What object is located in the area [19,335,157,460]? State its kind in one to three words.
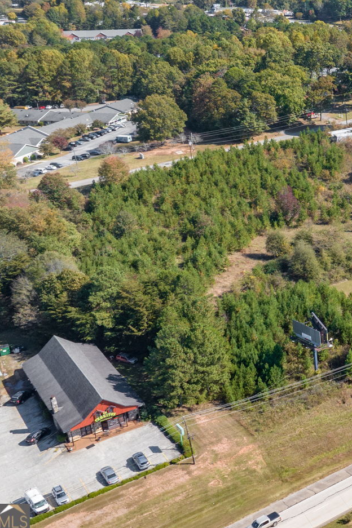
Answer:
building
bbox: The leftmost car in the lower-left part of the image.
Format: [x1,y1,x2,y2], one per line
[7,386,35,403]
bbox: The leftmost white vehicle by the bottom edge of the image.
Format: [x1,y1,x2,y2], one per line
[23,482,49,511]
